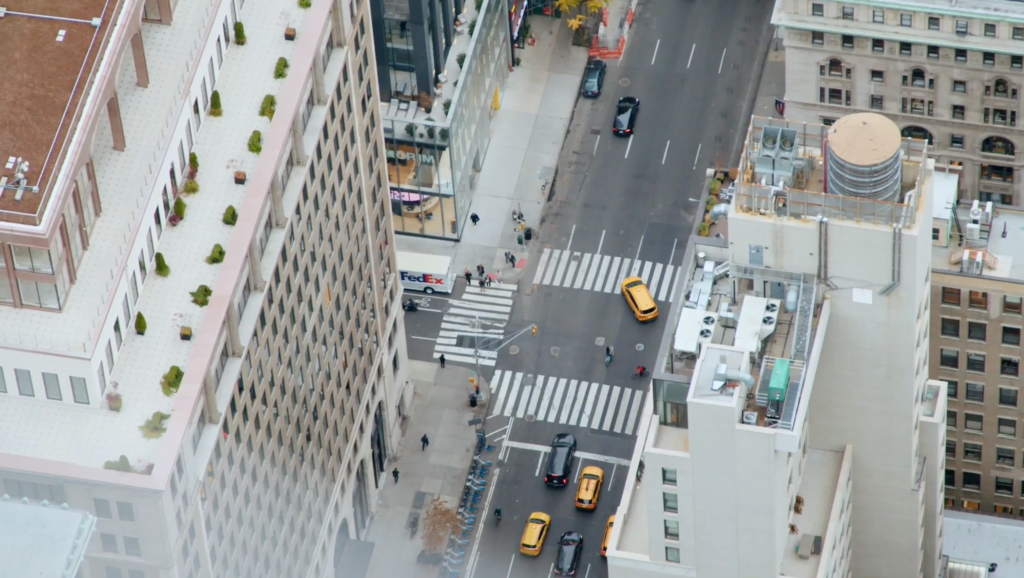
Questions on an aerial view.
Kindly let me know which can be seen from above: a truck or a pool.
truck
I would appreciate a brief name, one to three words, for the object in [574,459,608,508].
car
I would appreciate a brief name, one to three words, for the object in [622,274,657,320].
car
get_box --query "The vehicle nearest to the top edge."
[582,52,614,95]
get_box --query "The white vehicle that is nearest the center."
[397,249,457,294]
